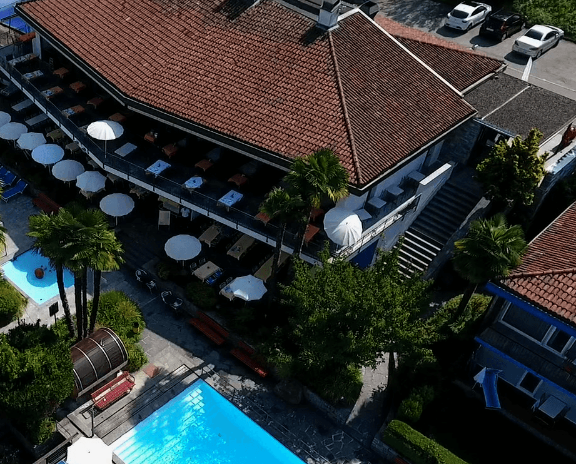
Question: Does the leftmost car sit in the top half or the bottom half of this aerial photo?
top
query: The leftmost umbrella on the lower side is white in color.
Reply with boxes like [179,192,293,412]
[66,435,115,464]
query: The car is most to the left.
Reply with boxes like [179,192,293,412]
[443,6,492,36]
